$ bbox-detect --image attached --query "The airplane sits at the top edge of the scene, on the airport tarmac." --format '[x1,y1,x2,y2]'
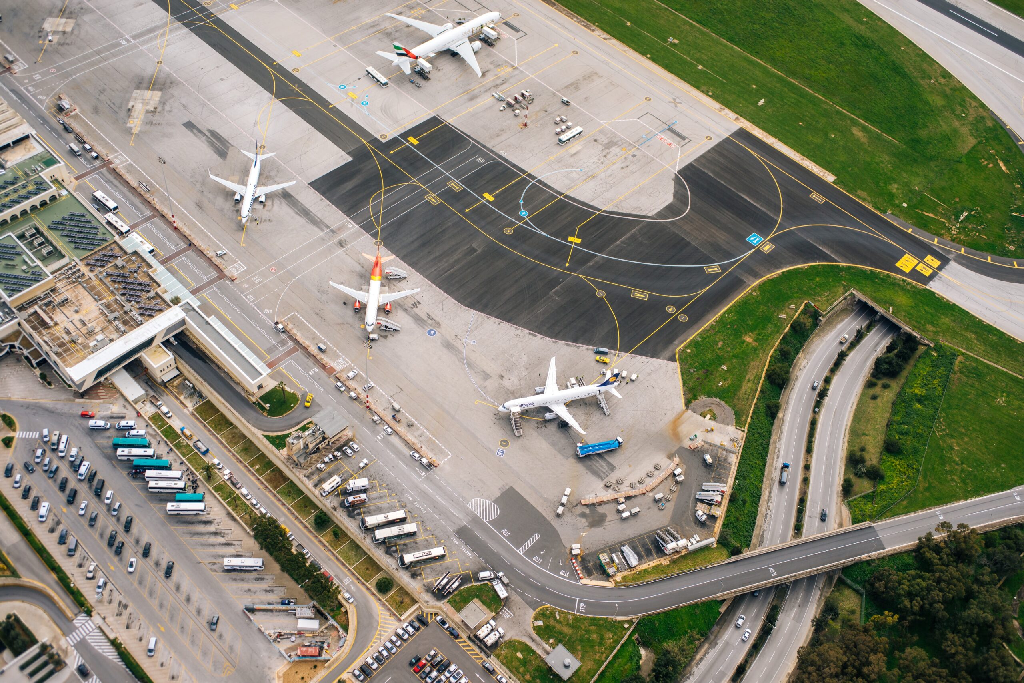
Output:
[377,11,502,78]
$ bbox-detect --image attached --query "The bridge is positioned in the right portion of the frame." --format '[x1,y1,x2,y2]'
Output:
[639,516,1024,618]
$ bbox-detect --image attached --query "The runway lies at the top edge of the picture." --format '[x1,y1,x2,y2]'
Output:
[857,0,1024,141]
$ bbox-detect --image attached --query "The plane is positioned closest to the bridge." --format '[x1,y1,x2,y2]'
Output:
[497,355,621,433]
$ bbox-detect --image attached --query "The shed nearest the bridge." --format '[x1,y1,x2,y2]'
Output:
[544,644,581,683]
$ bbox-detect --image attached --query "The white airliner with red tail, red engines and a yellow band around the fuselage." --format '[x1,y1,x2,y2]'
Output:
[329,243,421,333]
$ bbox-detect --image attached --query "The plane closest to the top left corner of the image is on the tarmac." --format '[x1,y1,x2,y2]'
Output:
[208,139,297,222]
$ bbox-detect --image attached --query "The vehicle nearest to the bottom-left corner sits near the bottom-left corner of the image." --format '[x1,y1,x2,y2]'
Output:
[77,662,90,678]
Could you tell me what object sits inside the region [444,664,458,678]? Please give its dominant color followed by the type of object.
white car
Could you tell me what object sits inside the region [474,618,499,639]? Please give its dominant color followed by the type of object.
white truck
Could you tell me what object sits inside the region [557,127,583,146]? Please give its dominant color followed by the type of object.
white vehicle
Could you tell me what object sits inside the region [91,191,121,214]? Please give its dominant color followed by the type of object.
white bus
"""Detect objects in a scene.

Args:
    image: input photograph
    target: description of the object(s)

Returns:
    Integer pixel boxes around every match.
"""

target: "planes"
[208,139,297,222]
[377,11,502,78]
[329,243,421,333]
[497,355,621,433]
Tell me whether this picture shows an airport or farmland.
airport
